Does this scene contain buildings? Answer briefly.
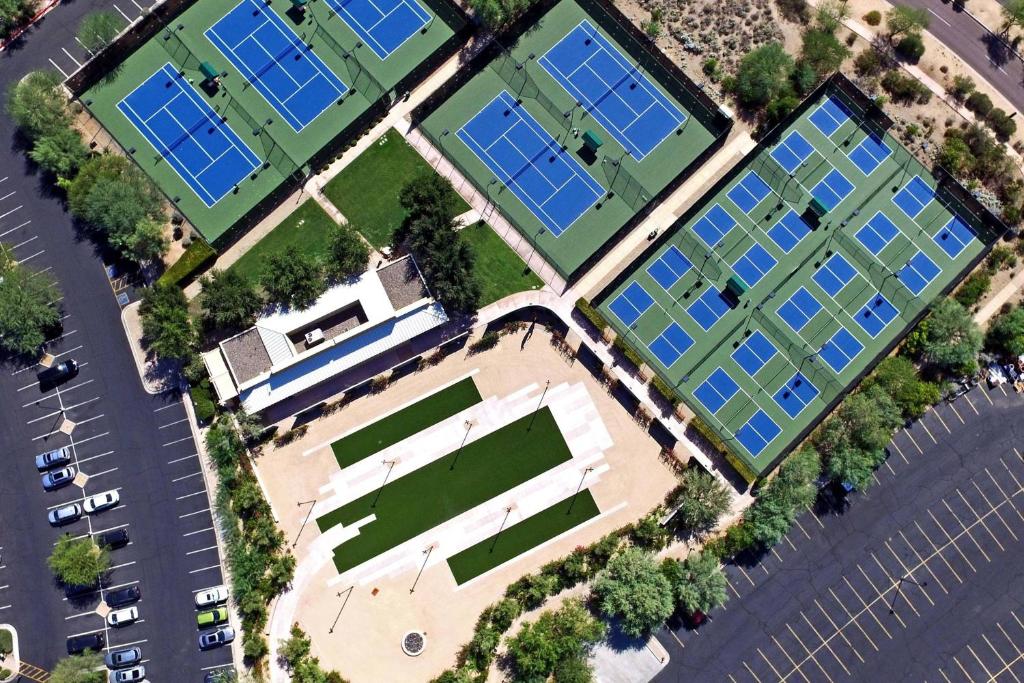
Yes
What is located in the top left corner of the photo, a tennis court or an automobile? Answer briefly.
tennis court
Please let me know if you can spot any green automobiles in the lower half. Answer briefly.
Yes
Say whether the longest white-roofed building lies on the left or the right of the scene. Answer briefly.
left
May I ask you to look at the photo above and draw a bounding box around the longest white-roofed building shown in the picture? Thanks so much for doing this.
[219,254,449,415]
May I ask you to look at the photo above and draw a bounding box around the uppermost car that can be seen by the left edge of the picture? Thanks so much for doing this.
[37,365,76,389]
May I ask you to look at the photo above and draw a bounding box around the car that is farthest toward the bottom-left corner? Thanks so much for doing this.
[70,632,104,653]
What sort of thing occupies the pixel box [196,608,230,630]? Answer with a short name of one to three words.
car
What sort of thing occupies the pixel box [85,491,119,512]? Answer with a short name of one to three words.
car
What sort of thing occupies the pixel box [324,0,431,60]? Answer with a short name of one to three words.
tennis court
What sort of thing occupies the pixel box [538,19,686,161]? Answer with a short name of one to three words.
tennis court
